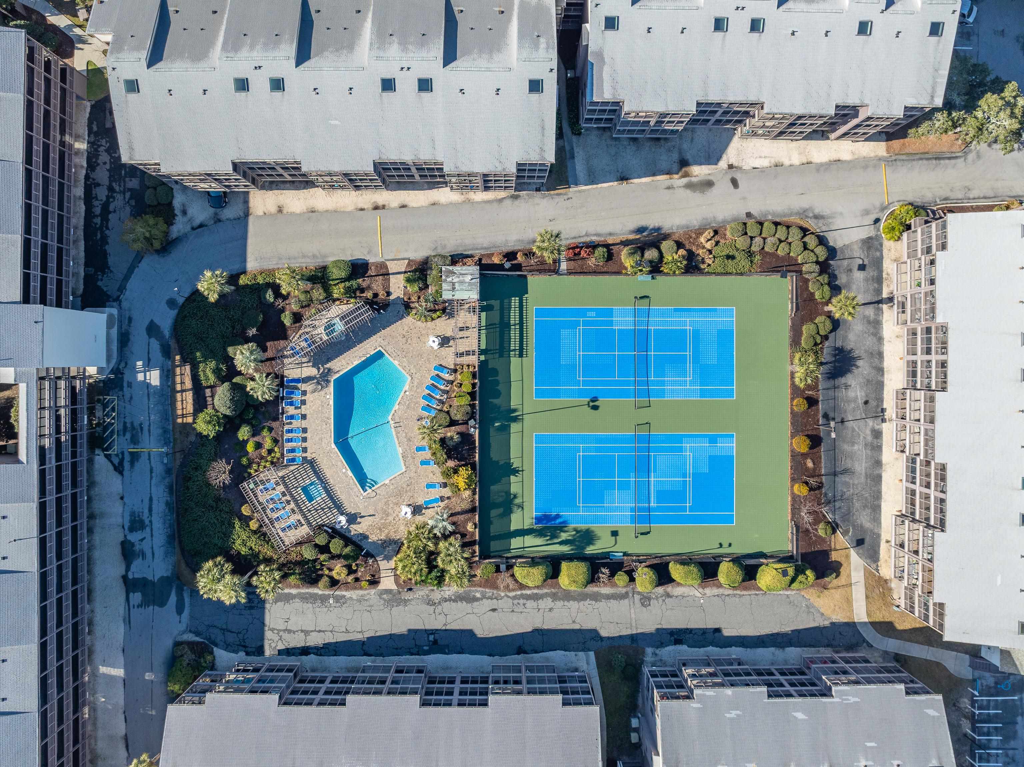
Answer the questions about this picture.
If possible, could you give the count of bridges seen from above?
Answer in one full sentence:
I count no bridges.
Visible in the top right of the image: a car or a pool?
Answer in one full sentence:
Visible in the top right of the image is a car.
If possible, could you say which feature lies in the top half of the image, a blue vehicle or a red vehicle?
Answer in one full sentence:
There is a blue vehicle in the top half of the image.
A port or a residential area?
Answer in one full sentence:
It's a residential area.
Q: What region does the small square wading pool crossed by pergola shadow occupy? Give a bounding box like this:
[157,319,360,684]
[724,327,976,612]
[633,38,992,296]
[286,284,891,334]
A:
[299,479,325,504]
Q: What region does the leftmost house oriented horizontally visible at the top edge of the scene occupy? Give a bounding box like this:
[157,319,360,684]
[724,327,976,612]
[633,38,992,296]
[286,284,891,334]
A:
[84,0,556,191]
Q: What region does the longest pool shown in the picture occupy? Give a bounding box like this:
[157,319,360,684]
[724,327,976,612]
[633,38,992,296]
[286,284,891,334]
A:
[330,346,412,499]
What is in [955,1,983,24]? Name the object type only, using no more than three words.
car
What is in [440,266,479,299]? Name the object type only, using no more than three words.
shed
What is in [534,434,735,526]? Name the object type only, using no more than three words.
tennis court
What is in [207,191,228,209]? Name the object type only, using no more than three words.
car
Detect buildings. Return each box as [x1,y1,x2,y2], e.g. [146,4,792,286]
[0,27,108,767]
[440,266,479,299]
[577,0,959,141]
[84,0,556,191]
[162,660,601,767]
[631,652,952,767]
[890,211,1024,647]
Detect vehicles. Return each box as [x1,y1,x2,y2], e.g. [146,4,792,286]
[207,191,228,209]
[955,1,983,24]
